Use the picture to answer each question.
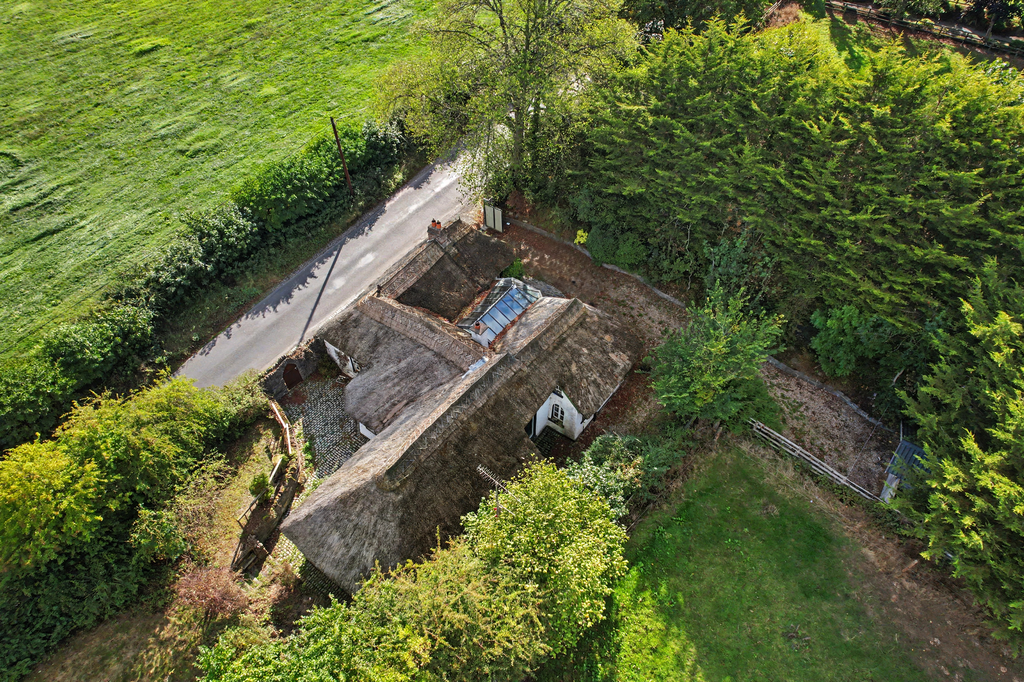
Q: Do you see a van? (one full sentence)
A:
No, I find no van anywhere in the image.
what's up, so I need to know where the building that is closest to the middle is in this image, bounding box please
[280,199,643,640]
